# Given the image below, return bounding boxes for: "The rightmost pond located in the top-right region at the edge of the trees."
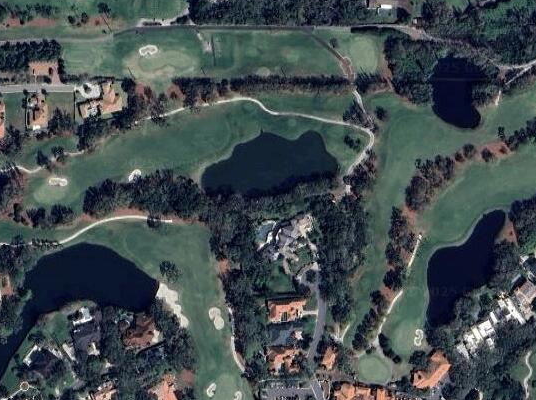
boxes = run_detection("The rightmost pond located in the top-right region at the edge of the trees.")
[432,57,483,129]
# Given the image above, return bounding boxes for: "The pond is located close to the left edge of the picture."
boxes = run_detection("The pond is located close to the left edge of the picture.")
[0,242,158,382]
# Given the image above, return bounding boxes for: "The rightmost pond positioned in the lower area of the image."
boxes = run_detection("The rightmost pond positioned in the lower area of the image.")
[425,210,506,329]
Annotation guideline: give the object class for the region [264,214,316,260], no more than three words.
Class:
house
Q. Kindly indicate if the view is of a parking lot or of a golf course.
golf course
